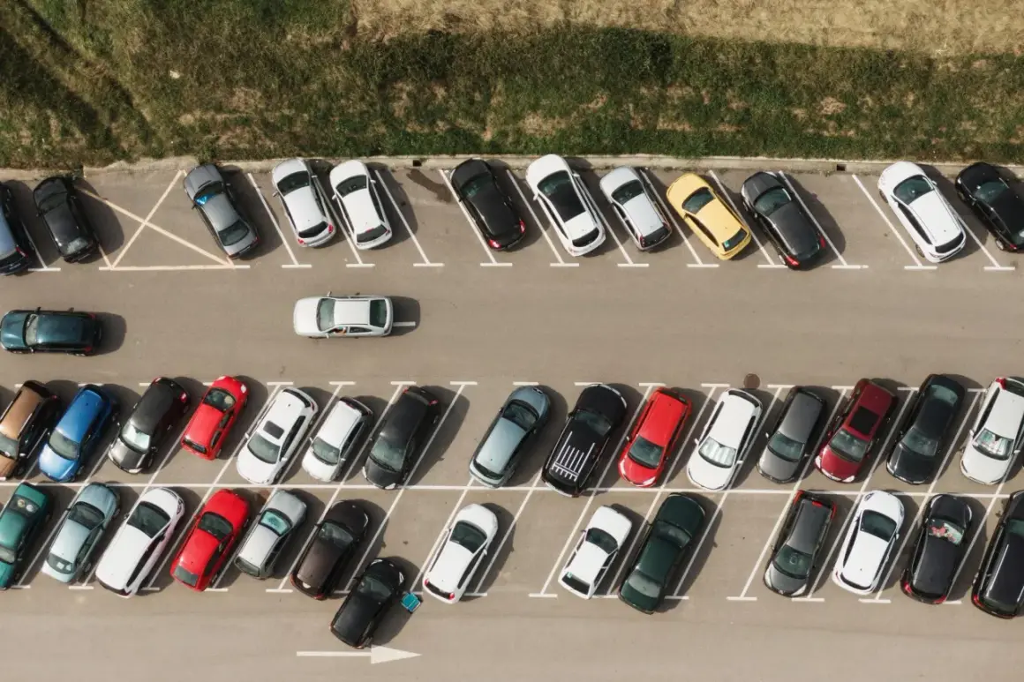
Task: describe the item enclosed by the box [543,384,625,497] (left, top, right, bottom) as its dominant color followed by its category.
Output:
black car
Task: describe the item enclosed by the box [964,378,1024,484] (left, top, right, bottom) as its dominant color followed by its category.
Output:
white car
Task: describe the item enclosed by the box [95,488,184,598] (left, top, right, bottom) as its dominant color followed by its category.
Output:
white car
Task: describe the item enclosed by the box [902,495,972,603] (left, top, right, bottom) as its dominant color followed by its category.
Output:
black car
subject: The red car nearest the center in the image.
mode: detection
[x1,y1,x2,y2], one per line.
[622,389,692,486]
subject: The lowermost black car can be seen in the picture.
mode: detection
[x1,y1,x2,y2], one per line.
[330,559,401,648]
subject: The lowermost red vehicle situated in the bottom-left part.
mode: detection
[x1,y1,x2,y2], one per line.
[169,490,243,589]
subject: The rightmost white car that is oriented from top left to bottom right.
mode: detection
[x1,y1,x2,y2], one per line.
[880,162,966,262]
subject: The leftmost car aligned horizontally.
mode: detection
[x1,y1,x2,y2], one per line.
[0,307,102,358]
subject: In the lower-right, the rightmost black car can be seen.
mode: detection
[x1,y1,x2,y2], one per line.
[974,495,1024,616]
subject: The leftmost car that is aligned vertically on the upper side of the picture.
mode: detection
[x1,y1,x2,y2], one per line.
[0,199,30,272]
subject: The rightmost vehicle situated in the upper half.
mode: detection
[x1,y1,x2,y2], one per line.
[957,162,1024,256]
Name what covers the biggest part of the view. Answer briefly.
paved ground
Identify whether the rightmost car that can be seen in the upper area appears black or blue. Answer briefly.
black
